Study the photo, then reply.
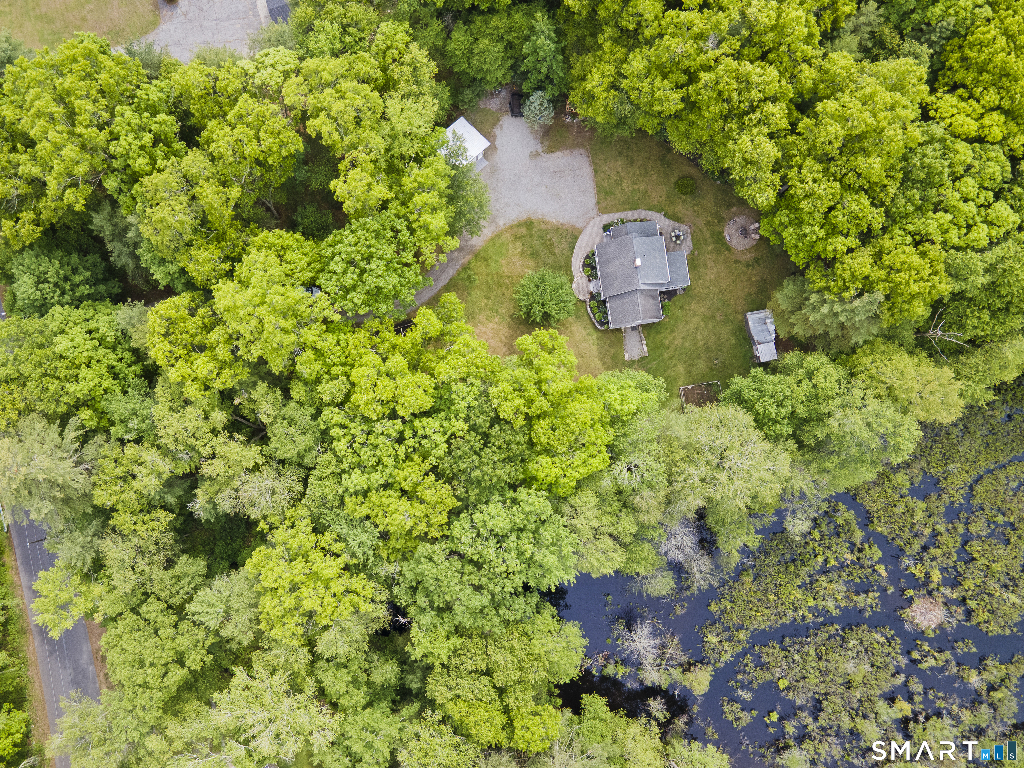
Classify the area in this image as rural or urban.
rural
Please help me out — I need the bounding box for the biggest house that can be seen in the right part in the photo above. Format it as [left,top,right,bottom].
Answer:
[594,221,690,329]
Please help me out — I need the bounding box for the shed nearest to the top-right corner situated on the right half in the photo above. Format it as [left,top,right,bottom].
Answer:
[744,309,781,362]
